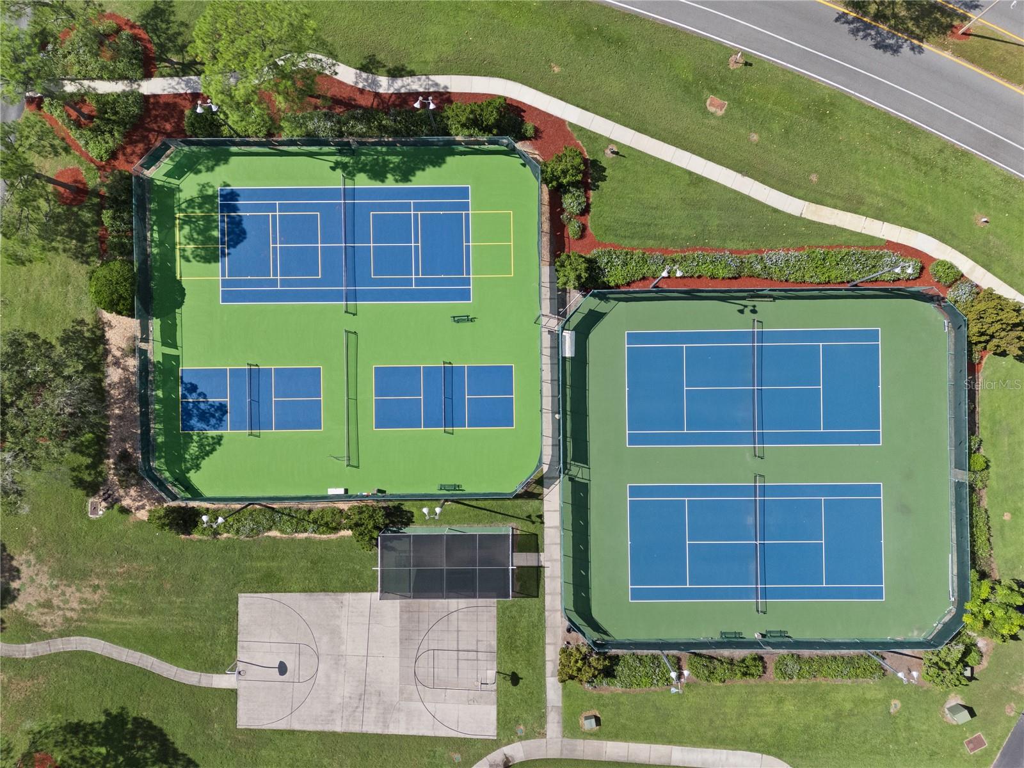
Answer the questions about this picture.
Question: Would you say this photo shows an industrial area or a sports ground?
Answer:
sports ground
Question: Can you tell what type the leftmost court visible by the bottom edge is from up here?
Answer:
basketball court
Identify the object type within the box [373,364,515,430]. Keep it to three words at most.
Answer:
sports court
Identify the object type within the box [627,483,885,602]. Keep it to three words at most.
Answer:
tennis court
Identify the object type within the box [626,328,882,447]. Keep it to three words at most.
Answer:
tennis court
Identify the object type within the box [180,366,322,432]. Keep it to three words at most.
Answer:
sports court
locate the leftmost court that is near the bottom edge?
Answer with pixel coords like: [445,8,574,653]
[237,593,497,739]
